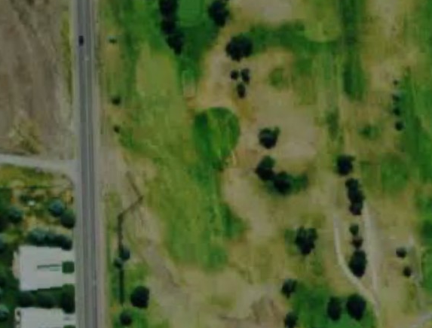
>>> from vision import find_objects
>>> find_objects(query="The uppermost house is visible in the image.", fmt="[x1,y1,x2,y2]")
[19,247,61,292]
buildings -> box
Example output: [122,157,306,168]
[21,309,65,328]
[19,247,61,292]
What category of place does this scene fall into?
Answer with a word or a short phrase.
golf course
